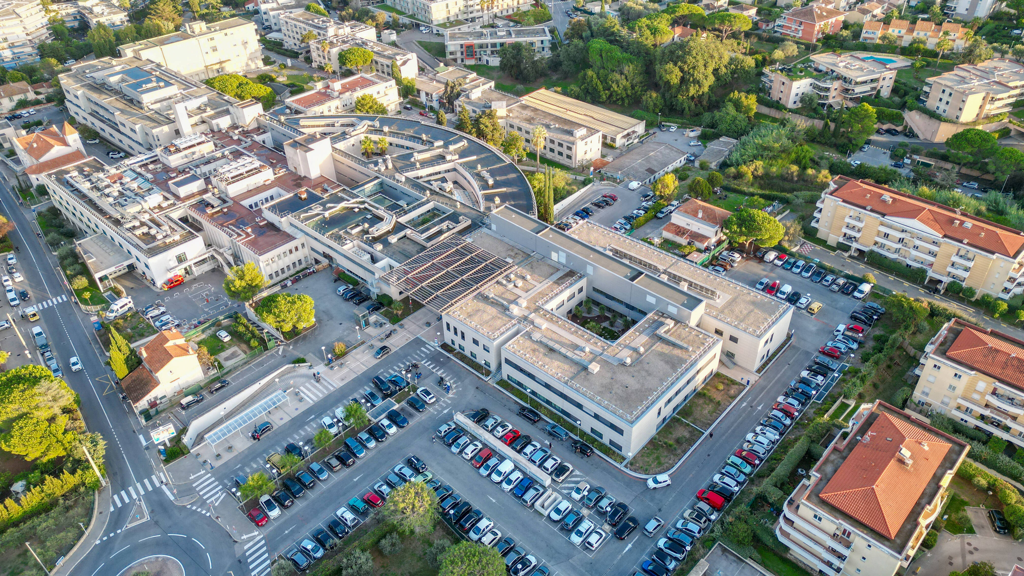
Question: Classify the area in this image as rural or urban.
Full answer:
The land in this view is best described as urban.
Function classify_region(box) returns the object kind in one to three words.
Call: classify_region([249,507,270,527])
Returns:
car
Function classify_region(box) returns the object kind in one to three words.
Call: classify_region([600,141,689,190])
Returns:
building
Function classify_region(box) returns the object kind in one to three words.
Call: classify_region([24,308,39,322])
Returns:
vehicle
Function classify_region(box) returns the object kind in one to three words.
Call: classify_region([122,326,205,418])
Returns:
house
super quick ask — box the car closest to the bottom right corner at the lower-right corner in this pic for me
[985,509,1007,536]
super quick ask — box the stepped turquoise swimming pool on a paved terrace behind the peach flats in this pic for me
[841,48,915,67]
